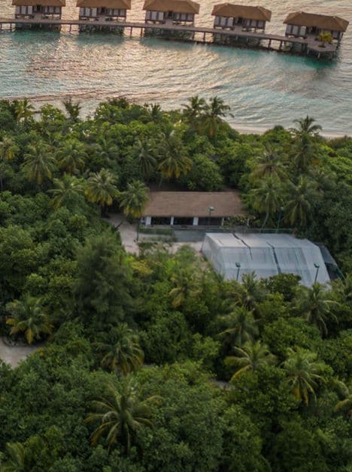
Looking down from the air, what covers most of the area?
trees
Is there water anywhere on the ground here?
Yes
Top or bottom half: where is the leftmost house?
top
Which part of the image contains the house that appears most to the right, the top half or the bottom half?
top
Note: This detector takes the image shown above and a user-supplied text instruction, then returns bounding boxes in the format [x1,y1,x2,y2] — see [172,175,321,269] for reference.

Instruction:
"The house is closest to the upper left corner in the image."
[12,0,65,24]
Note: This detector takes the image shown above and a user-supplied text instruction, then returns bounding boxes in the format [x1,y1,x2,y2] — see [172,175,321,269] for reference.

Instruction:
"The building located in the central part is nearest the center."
[135,191,251,228]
